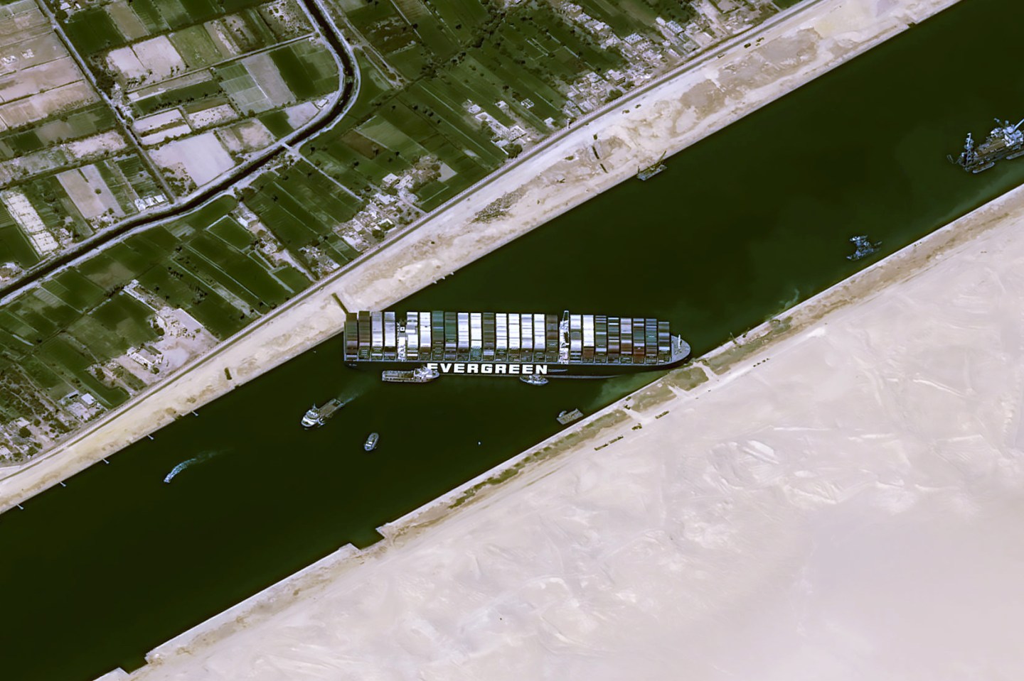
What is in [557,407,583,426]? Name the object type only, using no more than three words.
ship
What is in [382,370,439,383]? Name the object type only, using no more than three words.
vessel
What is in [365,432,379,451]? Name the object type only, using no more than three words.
boat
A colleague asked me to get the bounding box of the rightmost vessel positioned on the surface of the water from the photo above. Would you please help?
[954,123,1024,170]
